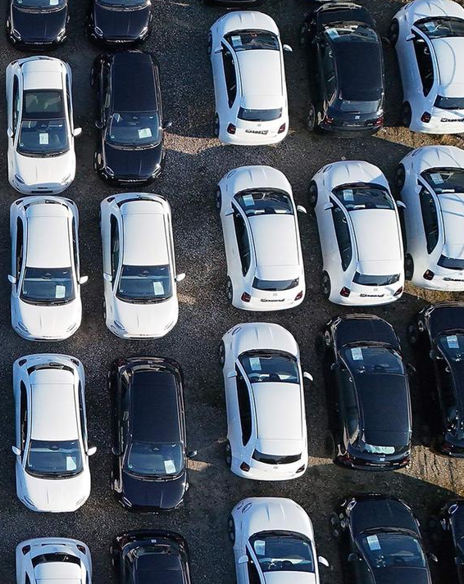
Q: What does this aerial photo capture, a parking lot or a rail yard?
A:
parking lot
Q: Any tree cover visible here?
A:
No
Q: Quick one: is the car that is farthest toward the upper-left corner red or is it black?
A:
black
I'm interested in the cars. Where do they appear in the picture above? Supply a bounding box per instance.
[302,5,389,137]
[321,315,418,469]
[226,497,323,584]
[208,13,291,145]
[4,55,83,194]
[394,149,464,290]
[332,493,434,584]
[94,48,173,187]
[391,1,464,133]
[8,194,90,341]
[113,530,193,584]
[217,168,306,310]
[6,0,71,52]
[112,356,200,514]
[89,0,155,49]
[416,303,464,457]
[11,353,97,512]
[310,163,404,305]
[101,192,186,339]
[16,538,92,584]
[219,325,311,479]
